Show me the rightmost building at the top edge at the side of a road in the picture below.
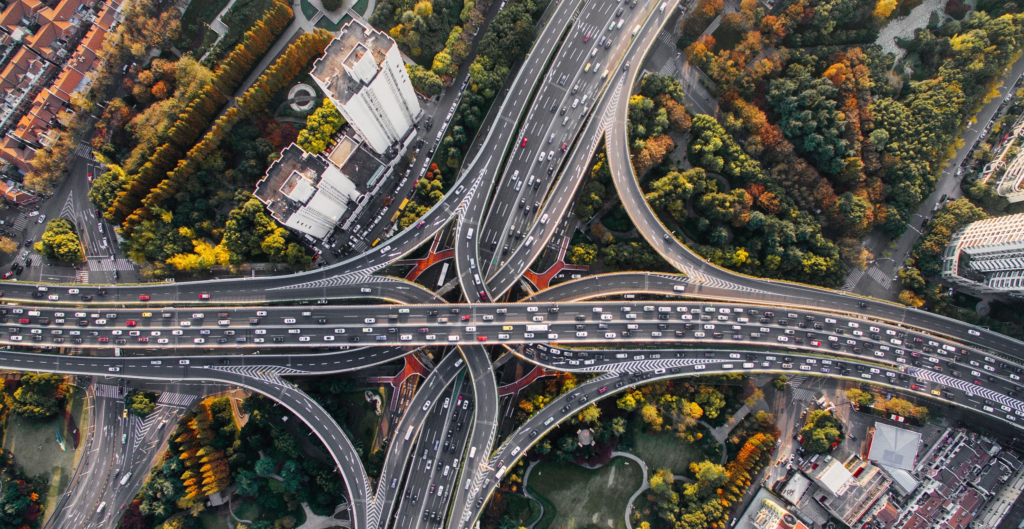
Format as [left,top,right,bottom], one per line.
[310,19,418,153]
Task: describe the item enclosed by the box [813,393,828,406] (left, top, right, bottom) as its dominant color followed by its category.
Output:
white vehicle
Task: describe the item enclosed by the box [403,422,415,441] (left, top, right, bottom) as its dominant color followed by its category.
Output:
white vehicle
